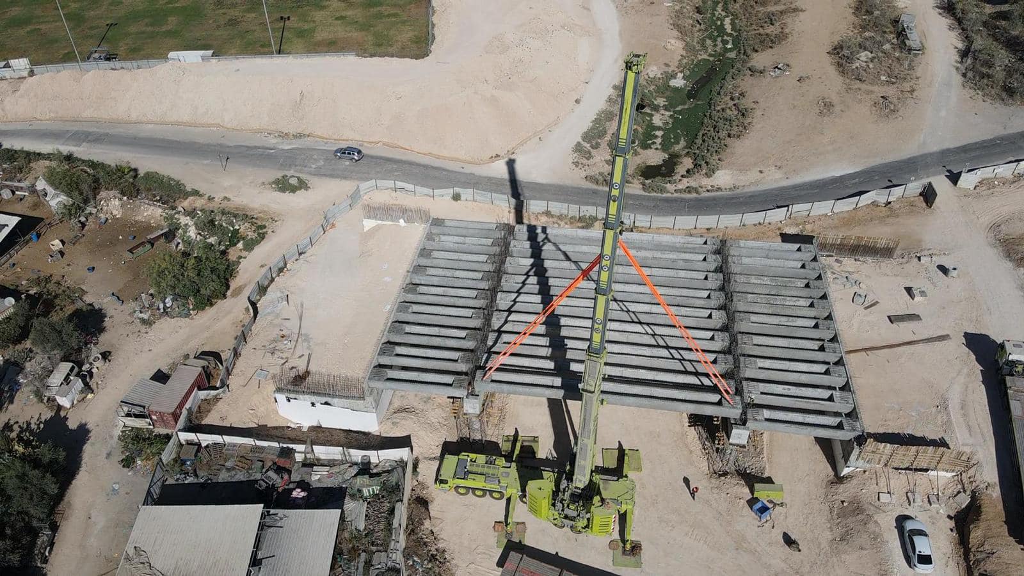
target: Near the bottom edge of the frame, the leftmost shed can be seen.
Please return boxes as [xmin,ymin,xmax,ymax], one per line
[109,504,263,576]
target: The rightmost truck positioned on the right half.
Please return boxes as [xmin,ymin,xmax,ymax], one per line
[995,339,1024,499]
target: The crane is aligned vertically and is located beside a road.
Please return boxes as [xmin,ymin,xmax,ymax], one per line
[428,49,651,556]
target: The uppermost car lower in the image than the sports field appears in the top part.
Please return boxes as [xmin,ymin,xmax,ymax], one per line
[332,144,364,160]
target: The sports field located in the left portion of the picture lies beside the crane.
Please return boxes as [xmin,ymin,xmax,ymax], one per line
[0,0,428,70]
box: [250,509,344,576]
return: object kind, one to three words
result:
shed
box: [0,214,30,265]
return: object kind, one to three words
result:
shed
